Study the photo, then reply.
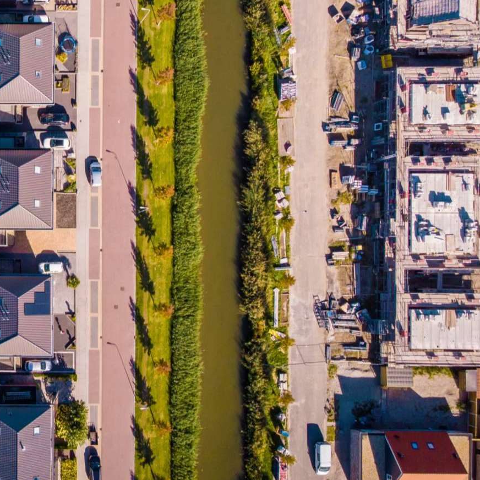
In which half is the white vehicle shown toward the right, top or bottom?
bottom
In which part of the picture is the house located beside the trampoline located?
top left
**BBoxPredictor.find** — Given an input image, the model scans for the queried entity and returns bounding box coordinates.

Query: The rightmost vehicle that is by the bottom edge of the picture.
[316,443,337,479]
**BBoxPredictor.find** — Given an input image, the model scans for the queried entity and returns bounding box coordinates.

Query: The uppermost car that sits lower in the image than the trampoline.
[39,111,71,127]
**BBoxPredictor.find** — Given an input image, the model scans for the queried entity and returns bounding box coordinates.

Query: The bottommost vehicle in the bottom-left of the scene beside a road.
[88,454,103,480]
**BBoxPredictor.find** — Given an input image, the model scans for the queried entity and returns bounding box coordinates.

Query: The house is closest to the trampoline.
[0,22,55,109]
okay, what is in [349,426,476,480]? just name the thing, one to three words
house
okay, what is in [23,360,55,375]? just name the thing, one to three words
car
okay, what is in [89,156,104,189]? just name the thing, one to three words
car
